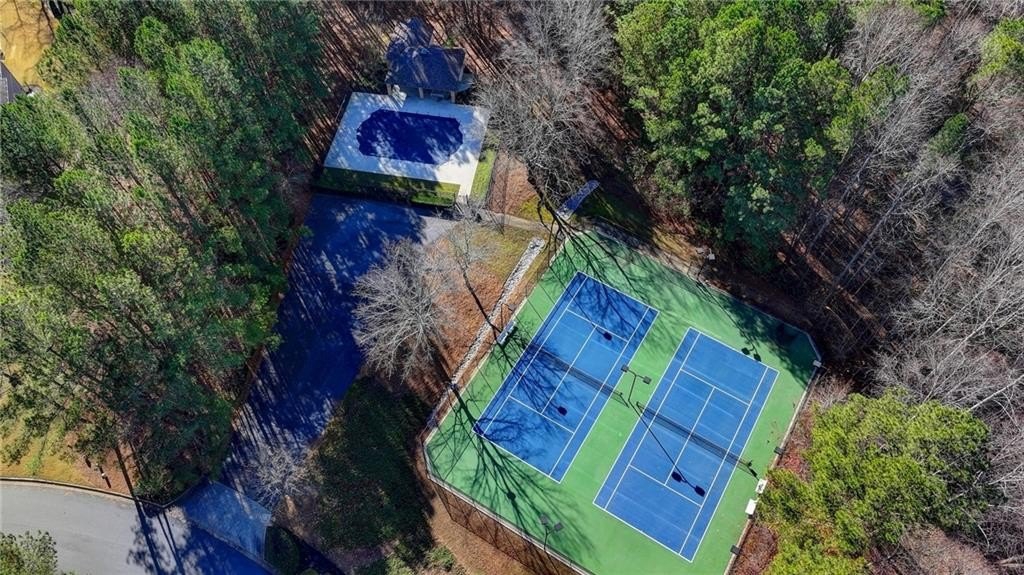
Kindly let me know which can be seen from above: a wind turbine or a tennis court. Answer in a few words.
tennis court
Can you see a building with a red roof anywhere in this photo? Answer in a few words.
No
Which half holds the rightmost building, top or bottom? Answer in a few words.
top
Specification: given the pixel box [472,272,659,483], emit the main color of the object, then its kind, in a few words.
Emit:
blue tennis court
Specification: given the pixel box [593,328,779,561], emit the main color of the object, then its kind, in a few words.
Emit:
blue tennis court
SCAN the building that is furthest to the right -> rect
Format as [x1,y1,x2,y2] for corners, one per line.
[384,18,465,102]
